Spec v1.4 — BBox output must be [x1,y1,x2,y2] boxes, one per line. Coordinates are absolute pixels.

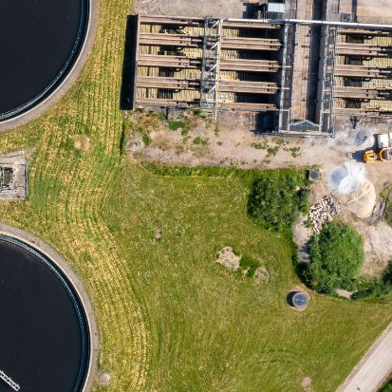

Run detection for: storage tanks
[0,0,97,131]
[0,220,98,392]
